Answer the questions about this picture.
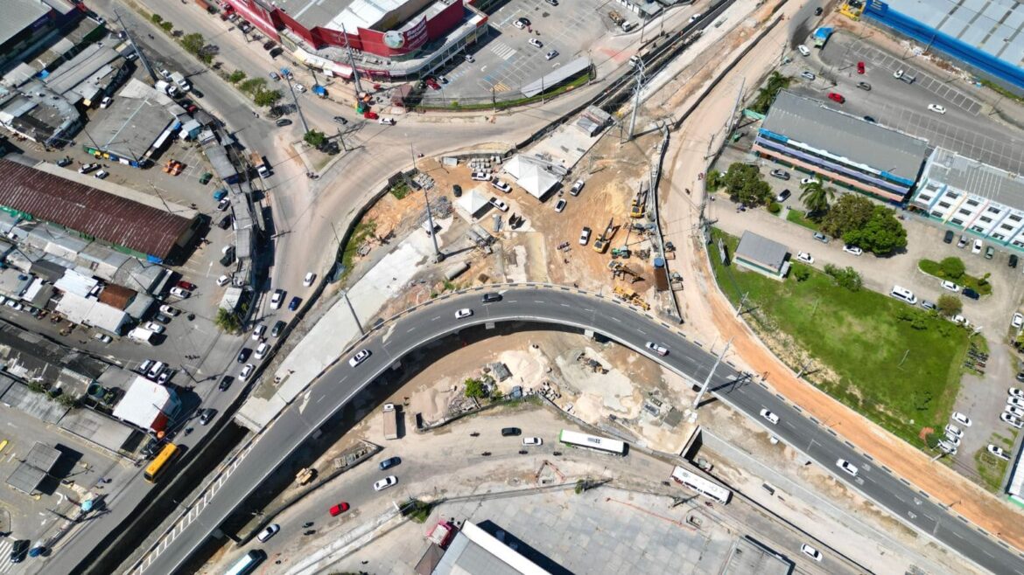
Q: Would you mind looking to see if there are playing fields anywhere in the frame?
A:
Yes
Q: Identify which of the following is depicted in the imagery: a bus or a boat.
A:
bus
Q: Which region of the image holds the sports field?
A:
right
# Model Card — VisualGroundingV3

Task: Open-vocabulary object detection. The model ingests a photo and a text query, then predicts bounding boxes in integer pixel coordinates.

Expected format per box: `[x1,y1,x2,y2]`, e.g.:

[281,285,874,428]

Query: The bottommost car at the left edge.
[10,538,31,565]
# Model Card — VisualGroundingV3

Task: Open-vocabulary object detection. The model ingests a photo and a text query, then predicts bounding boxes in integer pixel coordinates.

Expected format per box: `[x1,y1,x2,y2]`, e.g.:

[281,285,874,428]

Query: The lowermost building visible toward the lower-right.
[722,536,793,575]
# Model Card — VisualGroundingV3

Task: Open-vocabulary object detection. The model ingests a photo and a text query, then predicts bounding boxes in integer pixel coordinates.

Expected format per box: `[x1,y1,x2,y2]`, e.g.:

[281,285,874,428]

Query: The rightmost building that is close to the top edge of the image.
[855,0,1024,103]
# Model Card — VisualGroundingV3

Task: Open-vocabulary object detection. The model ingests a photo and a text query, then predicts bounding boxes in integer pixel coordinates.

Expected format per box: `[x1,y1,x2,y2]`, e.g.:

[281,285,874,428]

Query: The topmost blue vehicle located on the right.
[815,24,834,44]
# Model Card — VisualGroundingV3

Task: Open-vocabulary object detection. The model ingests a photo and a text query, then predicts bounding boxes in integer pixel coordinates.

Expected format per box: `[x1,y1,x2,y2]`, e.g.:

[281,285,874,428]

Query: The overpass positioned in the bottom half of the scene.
[124,284,1024,575]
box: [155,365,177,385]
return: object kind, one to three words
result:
vehicle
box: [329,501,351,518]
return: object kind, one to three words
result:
car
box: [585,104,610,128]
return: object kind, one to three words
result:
building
